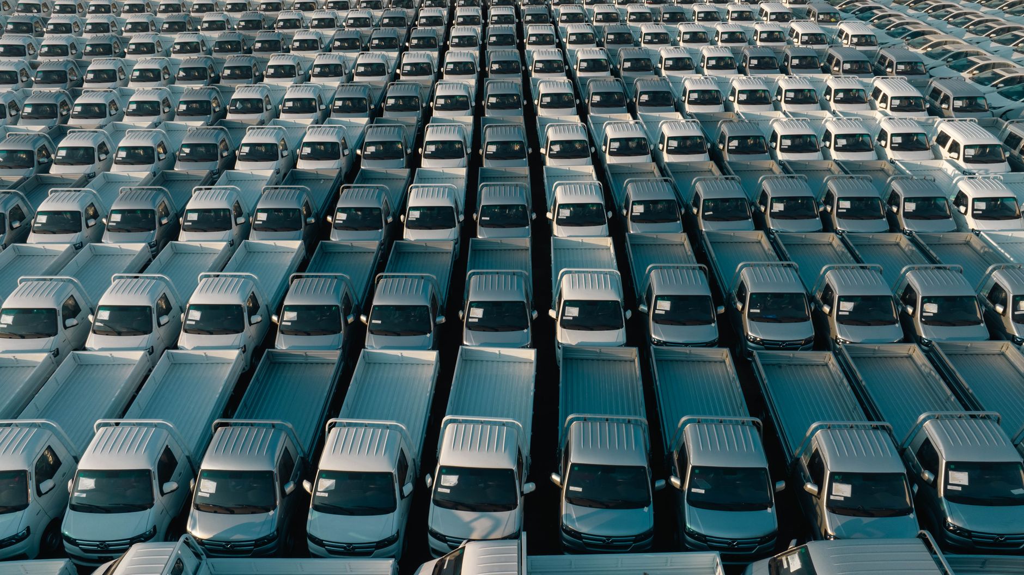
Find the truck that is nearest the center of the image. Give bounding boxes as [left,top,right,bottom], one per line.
[456,241,541,353]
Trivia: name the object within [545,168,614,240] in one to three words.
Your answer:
truck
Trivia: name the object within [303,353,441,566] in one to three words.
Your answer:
truck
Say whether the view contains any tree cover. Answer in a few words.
No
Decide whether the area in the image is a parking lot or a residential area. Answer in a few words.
parking lot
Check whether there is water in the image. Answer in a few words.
No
